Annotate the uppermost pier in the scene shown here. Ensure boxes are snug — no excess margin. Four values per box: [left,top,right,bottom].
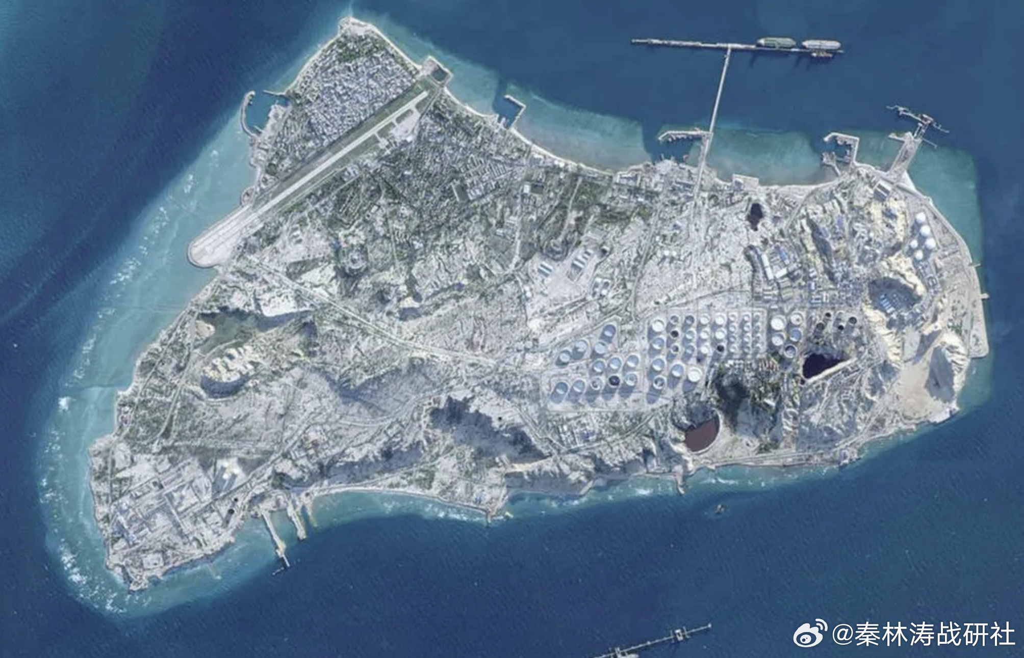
[631,39,844,51]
